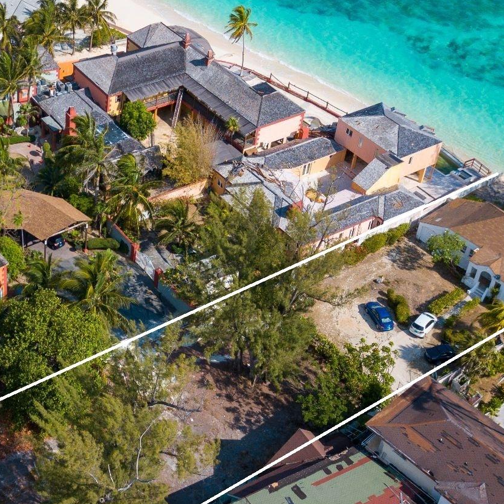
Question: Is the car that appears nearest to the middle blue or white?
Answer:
blue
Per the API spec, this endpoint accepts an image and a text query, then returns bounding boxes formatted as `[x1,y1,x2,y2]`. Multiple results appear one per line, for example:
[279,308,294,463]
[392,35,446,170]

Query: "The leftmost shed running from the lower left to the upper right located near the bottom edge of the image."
[231,429,333,503]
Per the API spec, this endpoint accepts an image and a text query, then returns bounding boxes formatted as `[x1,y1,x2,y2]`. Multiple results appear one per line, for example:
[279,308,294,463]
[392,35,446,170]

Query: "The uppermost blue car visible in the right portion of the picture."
[362,304,397,335]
